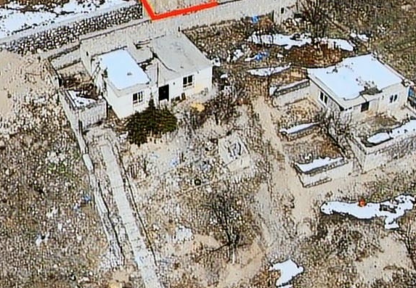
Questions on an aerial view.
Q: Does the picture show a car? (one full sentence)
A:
No, I can see no car in this picture.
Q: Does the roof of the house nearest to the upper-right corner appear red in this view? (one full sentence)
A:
No, the roof of the house nearest to the upper-right corner is white.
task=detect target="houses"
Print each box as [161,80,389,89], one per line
[306,52,410,125]
[92,32,217,118]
